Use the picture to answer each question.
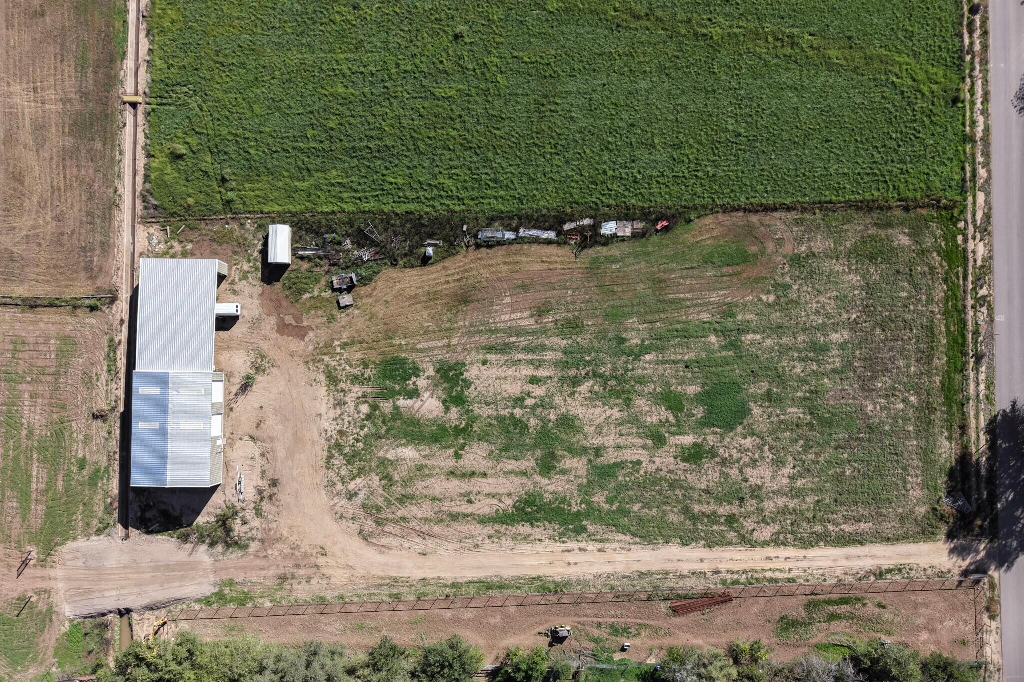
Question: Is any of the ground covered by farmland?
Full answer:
Yes, there is farmland in the image.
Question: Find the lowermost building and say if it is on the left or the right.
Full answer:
The lowermost building appears in the left half of the scene.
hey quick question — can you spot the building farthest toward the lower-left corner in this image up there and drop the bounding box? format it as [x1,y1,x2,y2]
[130,371,224,487]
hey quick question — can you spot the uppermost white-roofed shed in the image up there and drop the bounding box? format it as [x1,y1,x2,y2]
[269,224,293,263]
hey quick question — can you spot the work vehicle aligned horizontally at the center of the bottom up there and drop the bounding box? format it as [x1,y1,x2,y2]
[540,623,572,640]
